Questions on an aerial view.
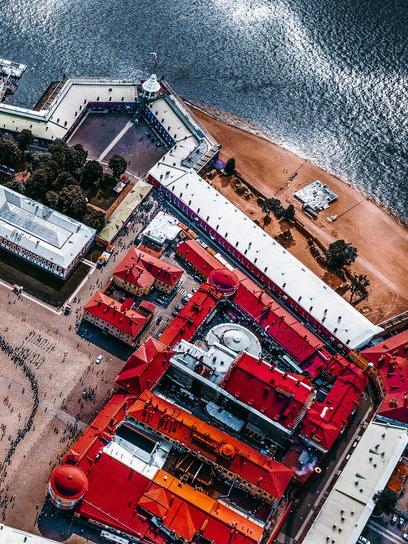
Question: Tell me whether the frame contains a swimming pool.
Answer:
No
